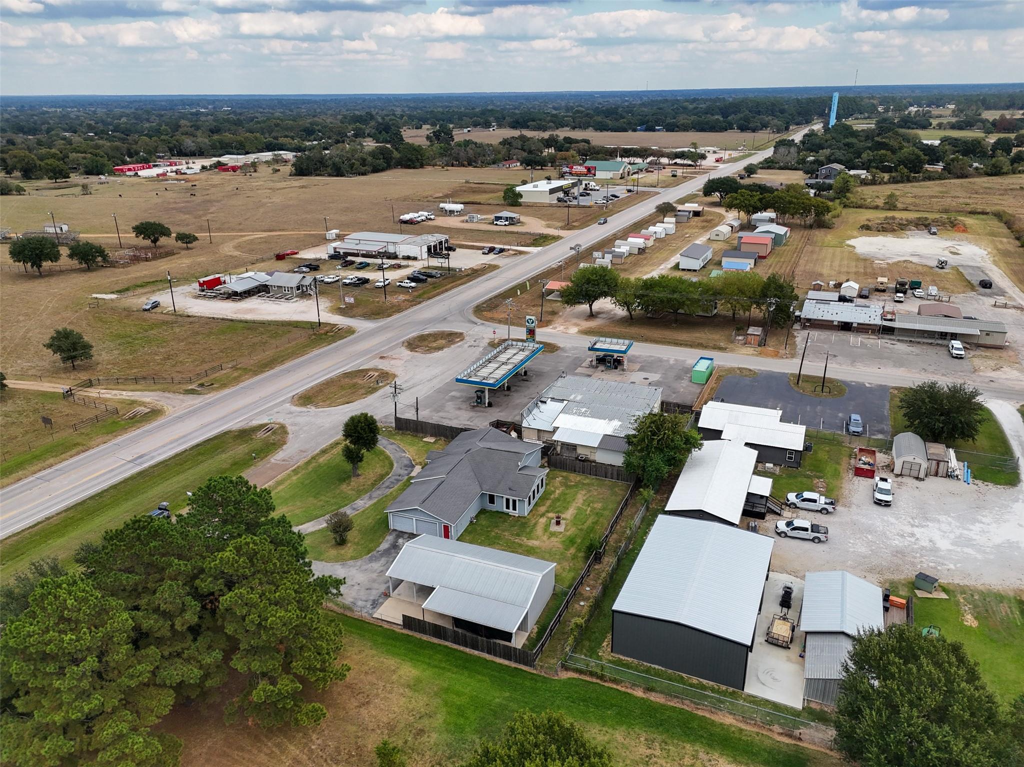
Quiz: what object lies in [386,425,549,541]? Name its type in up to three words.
house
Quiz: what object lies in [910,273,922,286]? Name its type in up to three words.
vehicle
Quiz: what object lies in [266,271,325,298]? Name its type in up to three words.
building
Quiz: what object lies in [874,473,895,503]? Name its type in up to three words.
truck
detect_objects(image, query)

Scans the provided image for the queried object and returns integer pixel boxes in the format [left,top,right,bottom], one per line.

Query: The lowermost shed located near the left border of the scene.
[45,221,76,234]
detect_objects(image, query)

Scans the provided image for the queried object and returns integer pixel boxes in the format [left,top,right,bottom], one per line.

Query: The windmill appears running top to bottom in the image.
[567,233,586,279]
